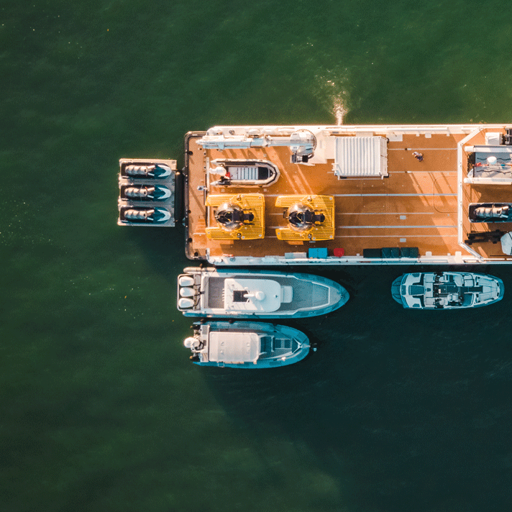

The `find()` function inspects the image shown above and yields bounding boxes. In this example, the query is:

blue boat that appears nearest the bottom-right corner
[392,266,504,310]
